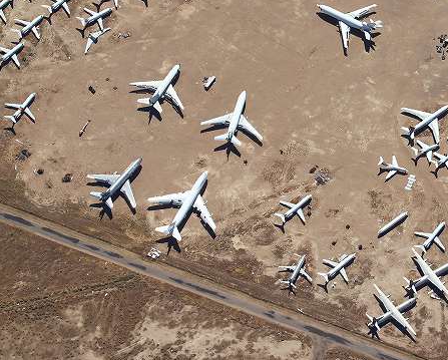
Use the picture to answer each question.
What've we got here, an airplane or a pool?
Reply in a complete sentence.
I can see an airplane in this picture.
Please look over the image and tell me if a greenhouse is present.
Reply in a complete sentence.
No, the frame has no greenhouse in it.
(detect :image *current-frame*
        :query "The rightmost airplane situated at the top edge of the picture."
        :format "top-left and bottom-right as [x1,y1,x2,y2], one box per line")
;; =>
[317,0,382,52]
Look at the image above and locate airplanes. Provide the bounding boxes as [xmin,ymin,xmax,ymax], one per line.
[80,9,113,30]
[88,158,142,209]
[44,0,70,16]
[0,0,11,23]
[403,105,448,144]
[379,153,407,179]
[149,172,219,244]
[317,0,382,52]
[200,91,262,144]
[414,141,439,165]
[432,152,448,170]
[278,255,311,286]
[278,196,311,225]
[321,255,356,284]
[367,286,418,338]
[130,65,185,111]
[0,45,23,69]
[5,93,37,122]
[414,223,445,252]
[405,250,448,297]
[14,16,44,39]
